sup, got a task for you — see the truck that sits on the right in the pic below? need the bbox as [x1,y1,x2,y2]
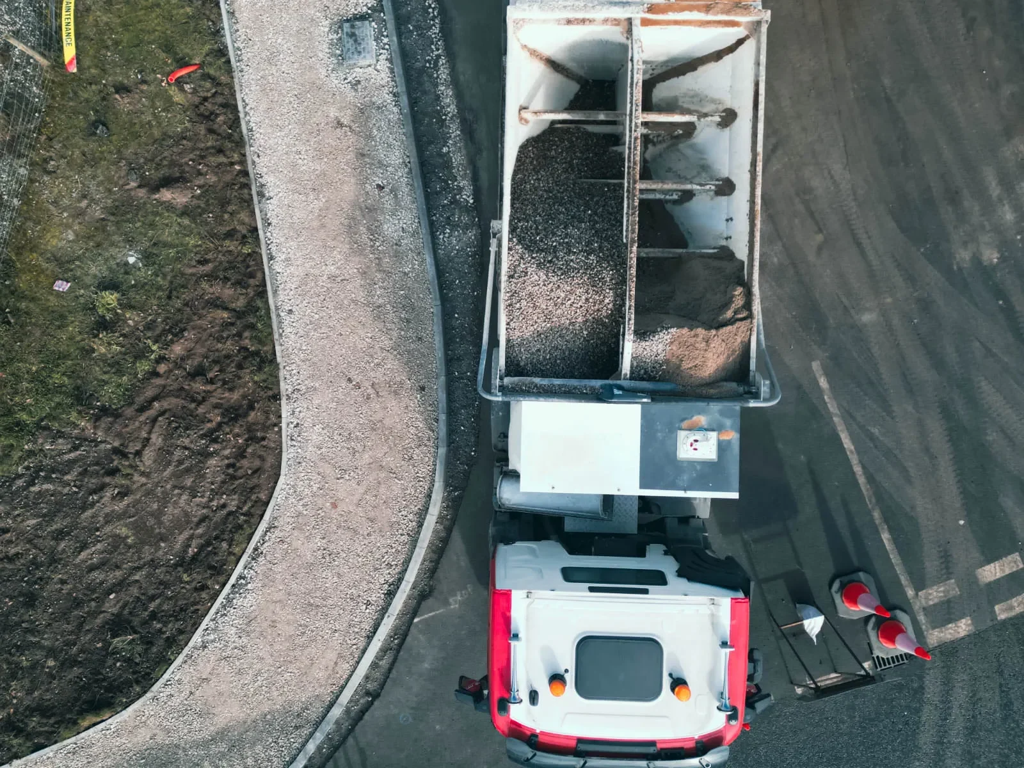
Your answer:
[456,0,782,768]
